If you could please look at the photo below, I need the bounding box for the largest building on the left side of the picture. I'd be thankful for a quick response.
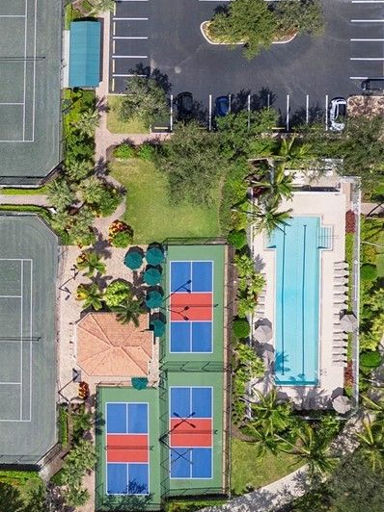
[72,312,154,376]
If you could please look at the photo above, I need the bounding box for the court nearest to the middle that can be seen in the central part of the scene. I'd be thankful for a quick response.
[160,244,225,372]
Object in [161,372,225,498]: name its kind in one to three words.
sports court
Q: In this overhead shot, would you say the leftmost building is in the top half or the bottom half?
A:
top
